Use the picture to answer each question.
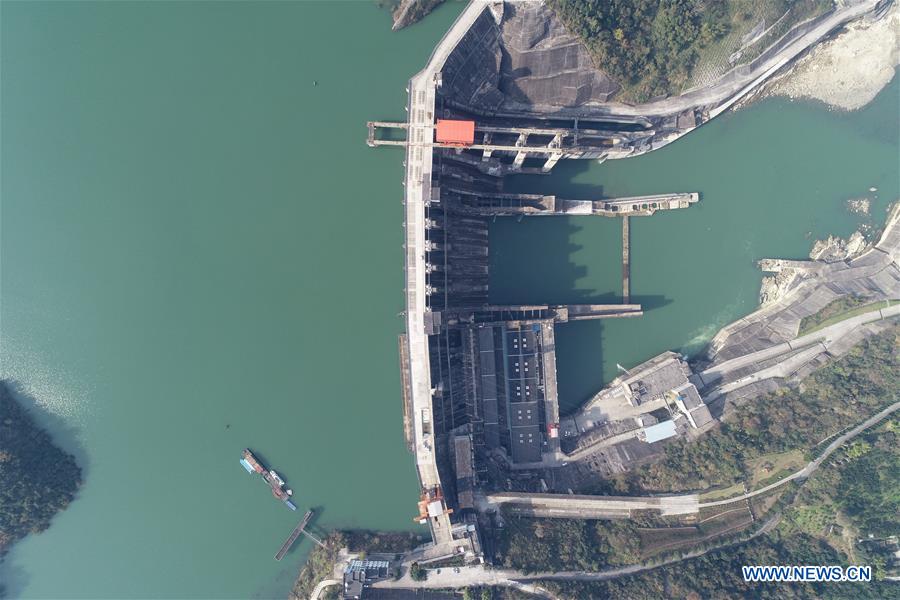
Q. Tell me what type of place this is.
port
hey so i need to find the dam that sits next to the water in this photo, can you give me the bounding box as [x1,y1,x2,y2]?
[399,0,504,548]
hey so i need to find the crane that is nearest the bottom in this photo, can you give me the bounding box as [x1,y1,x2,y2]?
[410,488,446,525]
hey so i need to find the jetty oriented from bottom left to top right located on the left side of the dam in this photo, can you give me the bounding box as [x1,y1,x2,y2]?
[272,510,313,560]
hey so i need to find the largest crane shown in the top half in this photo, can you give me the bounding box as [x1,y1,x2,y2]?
[436,119,475,147]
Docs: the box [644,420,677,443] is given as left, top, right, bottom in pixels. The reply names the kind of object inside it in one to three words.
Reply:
shed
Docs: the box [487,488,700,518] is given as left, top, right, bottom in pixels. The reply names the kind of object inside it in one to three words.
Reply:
bridge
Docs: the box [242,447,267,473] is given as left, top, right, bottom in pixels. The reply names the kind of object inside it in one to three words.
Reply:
ship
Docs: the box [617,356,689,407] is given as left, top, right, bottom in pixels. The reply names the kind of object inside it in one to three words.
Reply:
building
